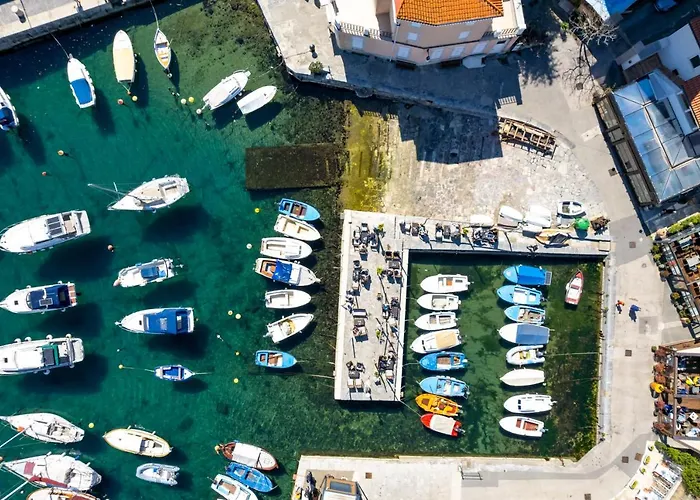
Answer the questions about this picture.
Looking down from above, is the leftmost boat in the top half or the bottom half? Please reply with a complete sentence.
The leftmost boat sits in the top half of the picture.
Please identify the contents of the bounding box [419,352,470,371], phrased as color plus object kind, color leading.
blue boat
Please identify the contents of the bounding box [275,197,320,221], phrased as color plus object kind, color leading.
blue boat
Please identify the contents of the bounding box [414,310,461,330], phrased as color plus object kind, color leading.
white boat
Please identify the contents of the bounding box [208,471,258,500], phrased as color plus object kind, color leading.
white boat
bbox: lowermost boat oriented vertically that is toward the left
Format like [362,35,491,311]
[0,85,24,135]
